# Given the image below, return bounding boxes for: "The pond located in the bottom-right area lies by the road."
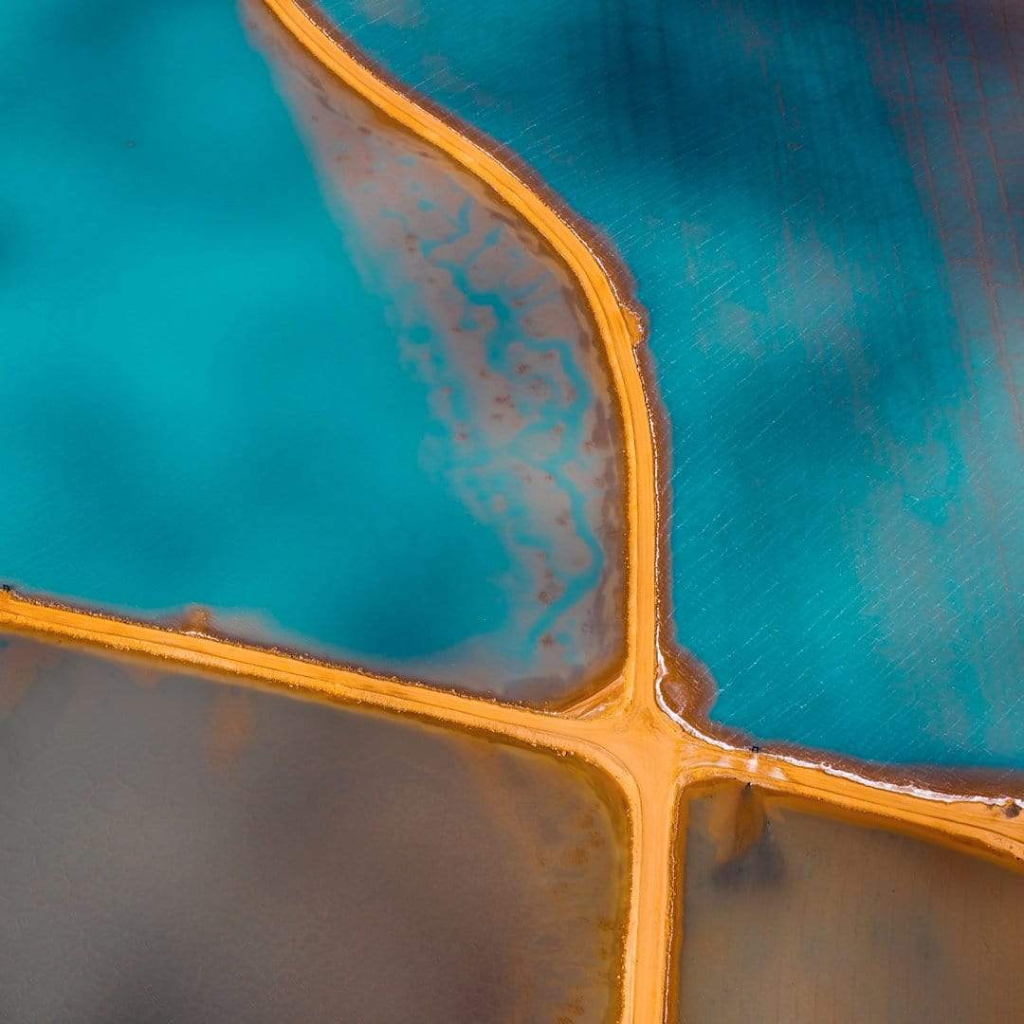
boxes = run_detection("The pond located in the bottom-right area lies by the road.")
[675,794,1024,1024]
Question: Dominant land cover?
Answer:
water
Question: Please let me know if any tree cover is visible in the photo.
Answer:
No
